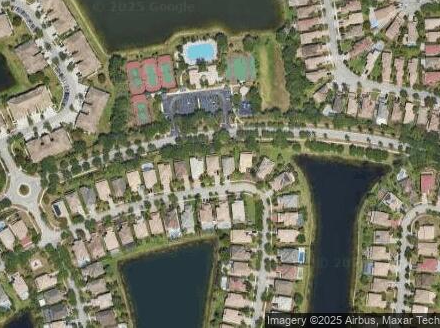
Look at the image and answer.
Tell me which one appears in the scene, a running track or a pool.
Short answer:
pool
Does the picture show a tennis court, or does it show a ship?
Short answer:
tennis court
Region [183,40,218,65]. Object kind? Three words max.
swimming pool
